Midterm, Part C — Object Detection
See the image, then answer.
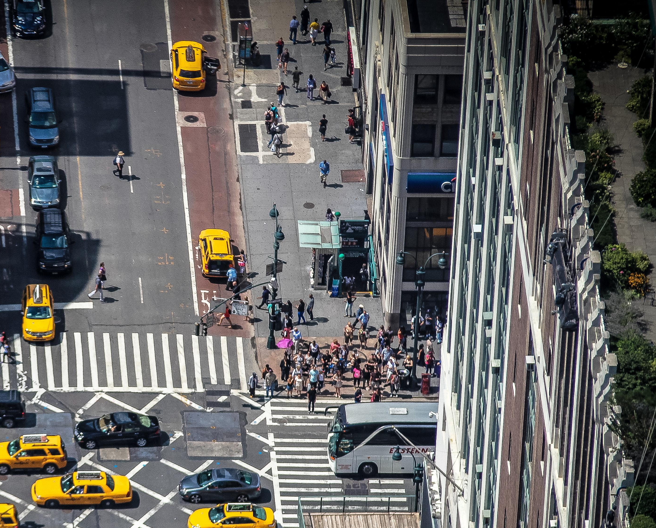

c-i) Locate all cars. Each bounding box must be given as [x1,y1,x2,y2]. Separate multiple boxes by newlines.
[0,504,21,528]
[31,472,132,513]
[24,88,63,145]
[72,415,163,452]
[19,281,59,341]
[0,434,69,478]
[25,159,65,212]
[174,470,266,508]
[0,53,19,96]
[168,45,221,95]
[185,504,278,528]
[33,209,75,272]
[0,388,33,433]
[195,235,249,287]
